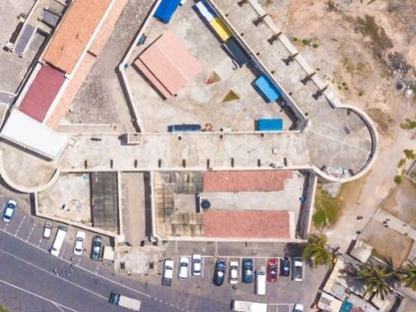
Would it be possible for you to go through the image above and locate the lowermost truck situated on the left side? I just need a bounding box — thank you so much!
[108,288,143,311]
